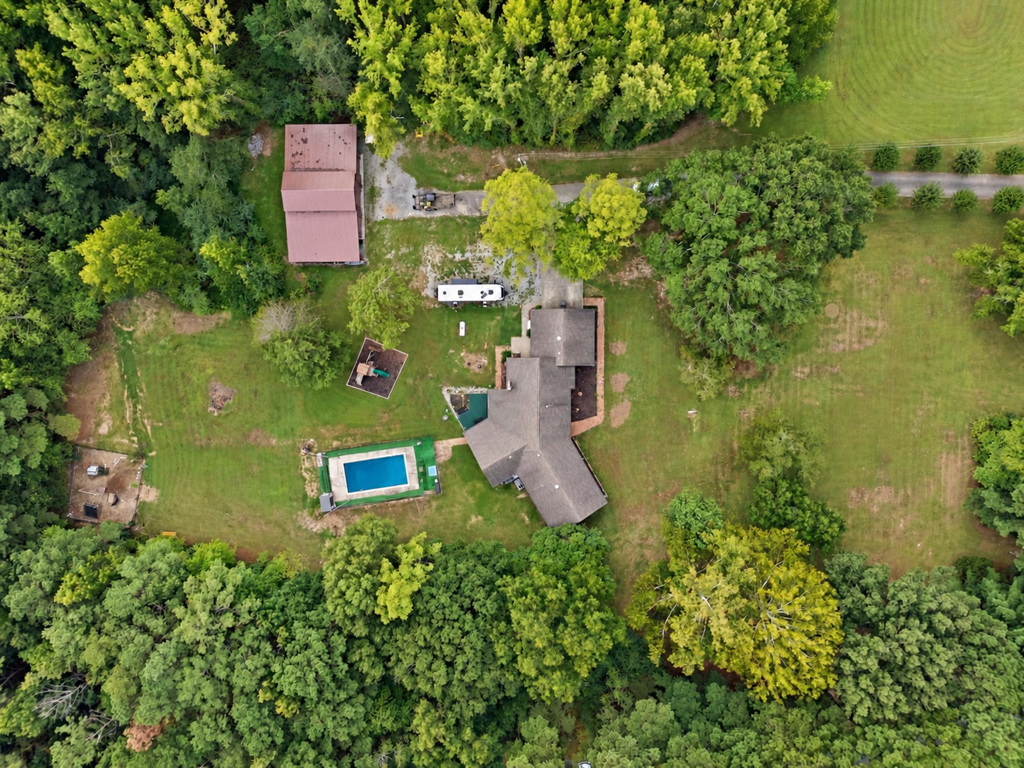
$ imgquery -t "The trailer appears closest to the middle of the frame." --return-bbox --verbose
[437,278,511,306]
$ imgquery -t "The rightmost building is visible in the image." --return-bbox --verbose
[463,309,608,526]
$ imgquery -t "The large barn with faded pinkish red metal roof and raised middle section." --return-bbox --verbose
[281,124,361,270]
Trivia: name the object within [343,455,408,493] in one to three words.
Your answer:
swimming pool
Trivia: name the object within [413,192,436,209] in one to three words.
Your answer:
work vehicle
